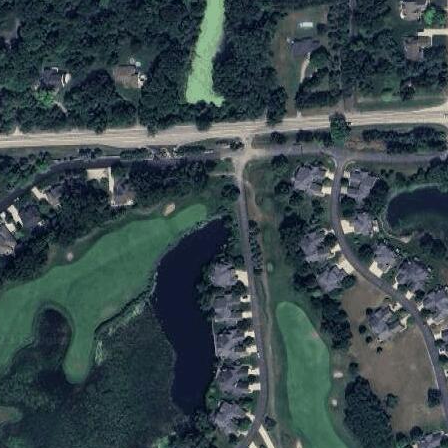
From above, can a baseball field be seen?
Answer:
No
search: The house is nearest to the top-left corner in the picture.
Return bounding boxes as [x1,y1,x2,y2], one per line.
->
[39,68,64,89]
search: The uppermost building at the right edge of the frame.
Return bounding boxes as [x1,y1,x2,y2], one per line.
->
[403,0,427,22]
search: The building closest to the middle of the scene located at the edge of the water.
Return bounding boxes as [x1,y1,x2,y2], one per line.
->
[210,261,237,287]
